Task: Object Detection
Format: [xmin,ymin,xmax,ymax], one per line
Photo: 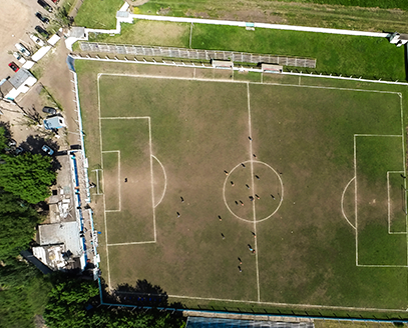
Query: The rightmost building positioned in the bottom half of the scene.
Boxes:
[23,155,78,275]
